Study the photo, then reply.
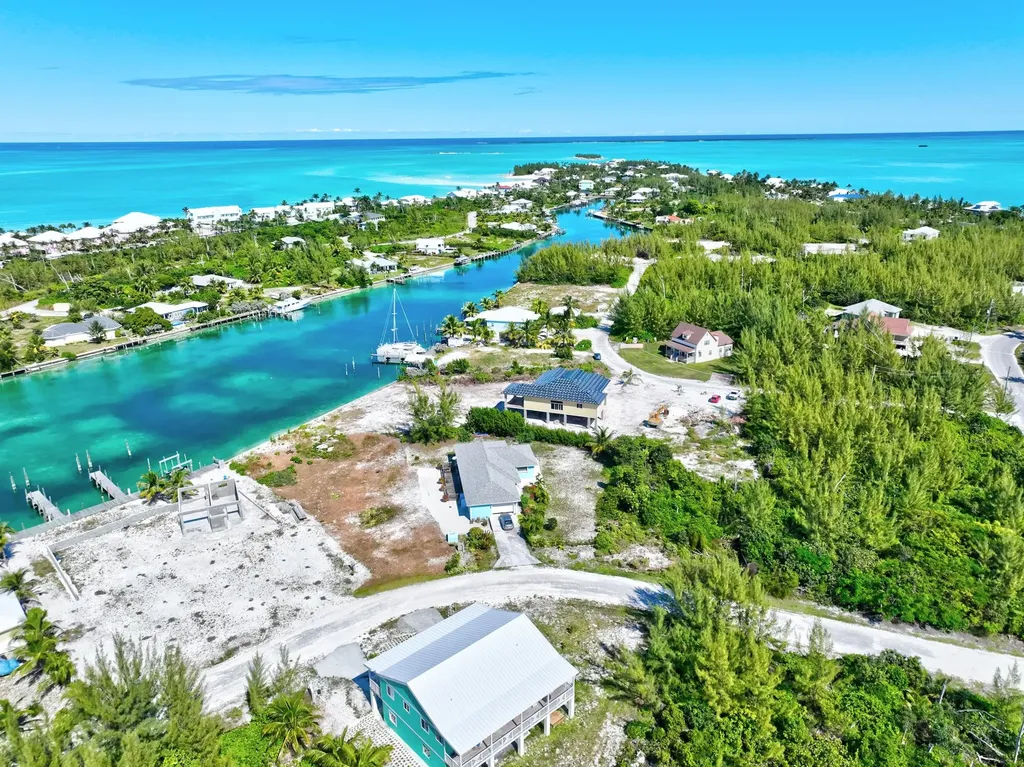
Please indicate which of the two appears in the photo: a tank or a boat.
boat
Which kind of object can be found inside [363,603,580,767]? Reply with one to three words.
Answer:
house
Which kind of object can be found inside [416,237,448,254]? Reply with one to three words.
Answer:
house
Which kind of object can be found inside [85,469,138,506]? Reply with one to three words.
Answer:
pier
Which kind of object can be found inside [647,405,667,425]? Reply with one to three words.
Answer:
work vehicle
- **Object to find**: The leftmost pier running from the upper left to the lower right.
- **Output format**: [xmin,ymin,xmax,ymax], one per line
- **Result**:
[19,487,79,527]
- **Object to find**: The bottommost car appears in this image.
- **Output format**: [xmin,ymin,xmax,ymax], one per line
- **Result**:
[498,511,513,529]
